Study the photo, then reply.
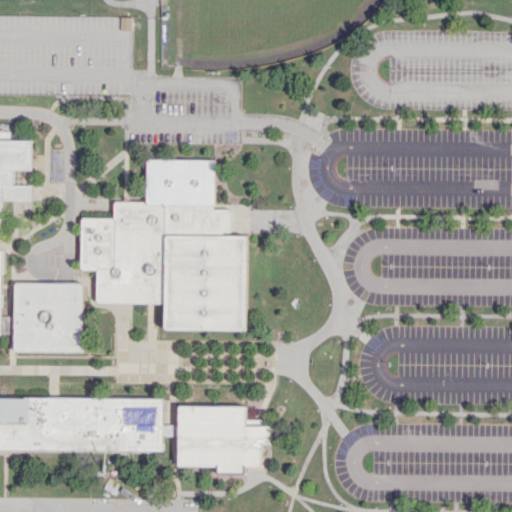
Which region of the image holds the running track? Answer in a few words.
top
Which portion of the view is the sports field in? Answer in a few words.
top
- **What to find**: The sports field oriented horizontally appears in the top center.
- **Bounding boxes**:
[160,0,380,70]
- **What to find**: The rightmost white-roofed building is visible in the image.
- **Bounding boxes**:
[177,404,271,474]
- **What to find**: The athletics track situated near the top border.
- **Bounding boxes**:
[160,0,380,70]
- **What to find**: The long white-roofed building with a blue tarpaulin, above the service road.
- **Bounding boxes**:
[0,397,165,453]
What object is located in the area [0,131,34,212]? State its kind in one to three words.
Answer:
building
